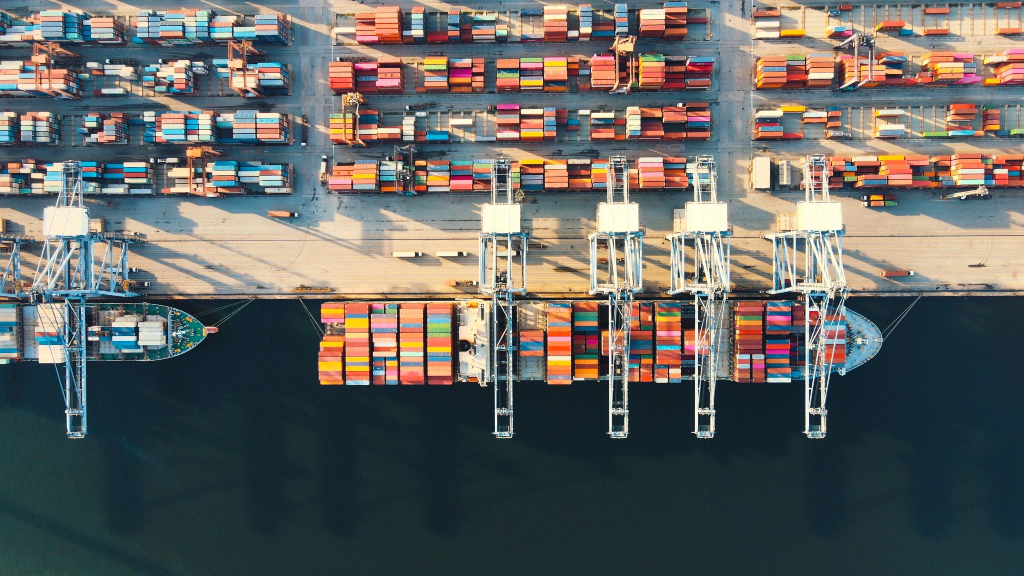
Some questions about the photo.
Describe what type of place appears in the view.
port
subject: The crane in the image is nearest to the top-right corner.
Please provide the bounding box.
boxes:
[834,33,875,95]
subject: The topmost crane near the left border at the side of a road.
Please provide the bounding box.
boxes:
[29,41,79,102]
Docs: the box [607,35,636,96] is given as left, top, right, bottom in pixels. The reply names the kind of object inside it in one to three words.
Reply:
crane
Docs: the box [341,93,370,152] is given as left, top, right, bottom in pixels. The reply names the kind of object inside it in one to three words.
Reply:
crane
